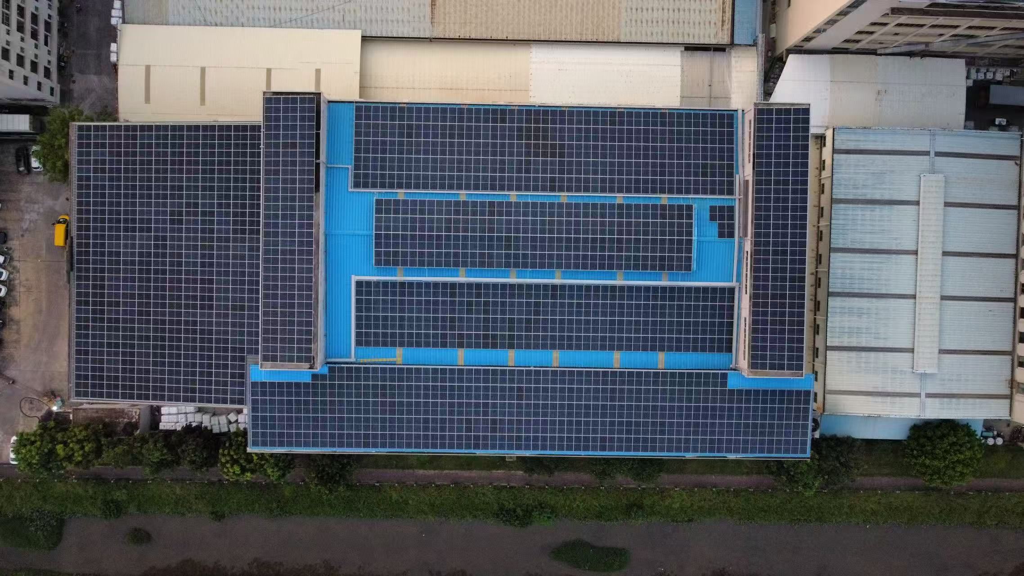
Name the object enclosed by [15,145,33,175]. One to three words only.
car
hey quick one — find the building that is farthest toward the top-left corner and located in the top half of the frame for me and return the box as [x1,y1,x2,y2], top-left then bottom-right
[0,0,59,103]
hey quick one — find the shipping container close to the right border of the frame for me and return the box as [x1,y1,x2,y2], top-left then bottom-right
[981,85,1024,110]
